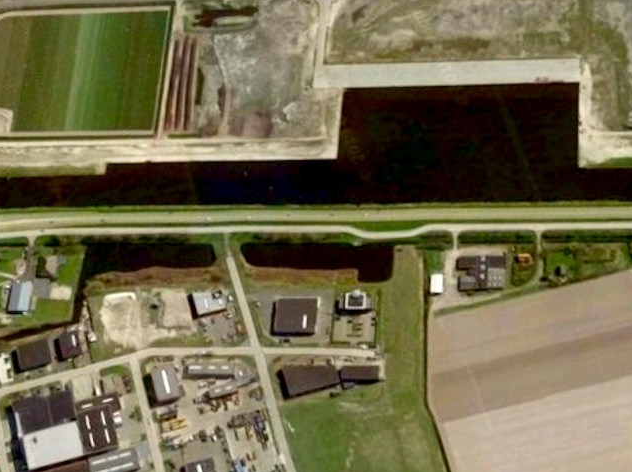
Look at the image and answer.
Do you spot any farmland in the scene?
Yes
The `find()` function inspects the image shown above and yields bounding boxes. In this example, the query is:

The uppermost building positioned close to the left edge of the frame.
[6,281,33,312]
